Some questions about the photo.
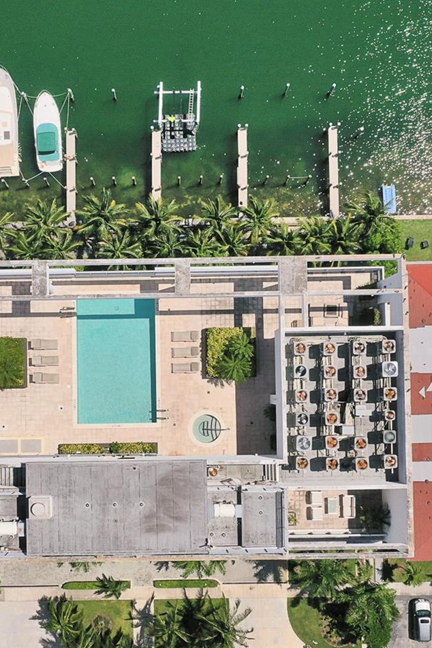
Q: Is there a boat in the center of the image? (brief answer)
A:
No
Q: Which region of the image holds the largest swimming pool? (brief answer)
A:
left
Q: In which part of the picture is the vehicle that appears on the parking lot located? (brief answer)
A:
bottom right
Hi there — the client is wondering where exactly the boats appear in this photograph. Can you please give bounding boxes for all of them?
[0,67,21,180]
[33,89,63,173]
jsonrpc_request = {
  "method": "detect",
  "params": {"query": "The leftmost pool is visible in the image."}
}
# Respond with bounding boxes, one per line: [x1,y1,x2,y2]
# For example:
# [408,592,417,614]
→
[65,293,168,429]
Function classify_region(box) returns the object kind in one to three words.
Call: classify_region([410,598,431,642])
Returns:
vehicle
